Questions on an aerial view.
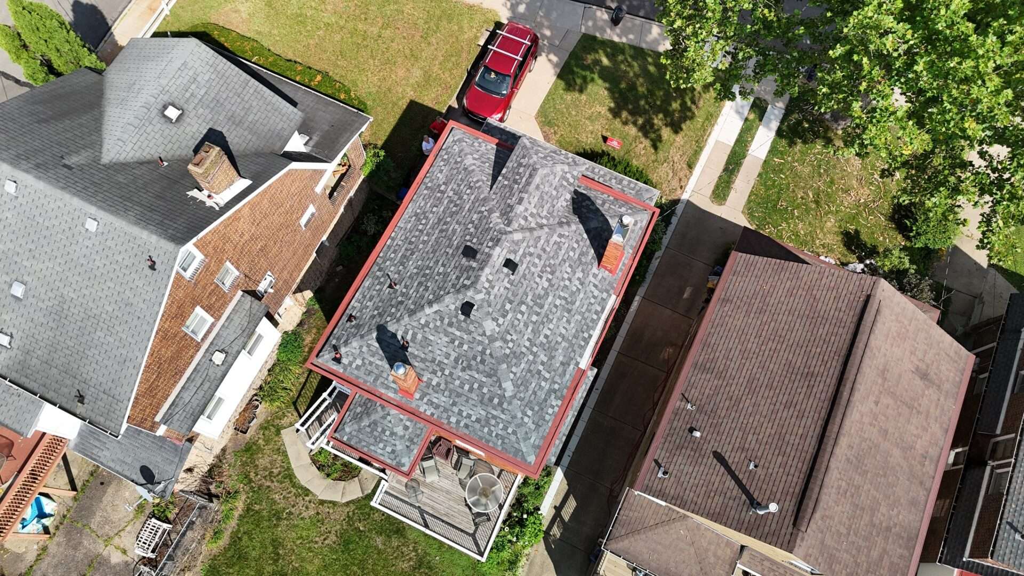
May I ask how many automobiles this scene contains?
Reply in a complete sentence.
My tally gives 1 automobile in this photo.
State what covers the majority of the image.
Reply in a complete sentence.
What you mostly see from above here is buildings.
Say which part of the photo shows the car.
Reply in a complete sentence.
Look in the top portion of the view to spot the car.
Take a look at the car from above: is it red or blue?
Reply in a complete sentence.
In this view, the car is red.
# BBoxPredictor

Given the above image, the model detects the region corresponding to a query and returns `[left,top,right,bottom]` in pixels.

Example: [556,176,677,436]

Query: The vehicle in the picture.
[459,18,546,123]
